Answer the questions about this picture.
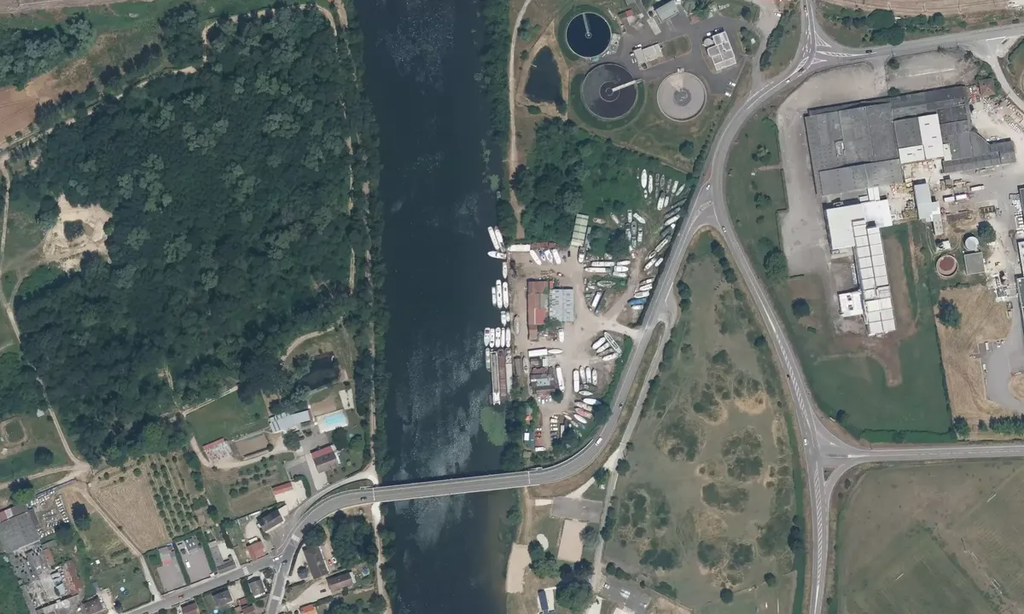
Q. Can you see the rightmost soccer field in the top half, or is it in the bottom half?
bottom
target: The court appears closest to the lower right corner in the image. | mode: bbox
[557,520,587,561]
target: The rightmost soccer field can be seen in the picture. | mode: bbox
[955,473,1024,613]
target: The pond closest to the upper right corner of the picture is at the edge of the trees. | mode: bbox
[524,46,563,103]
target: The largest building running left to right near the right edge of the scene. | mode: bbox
[804,84,1016,196]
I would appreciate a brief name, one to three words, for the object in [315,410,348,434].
swimming pool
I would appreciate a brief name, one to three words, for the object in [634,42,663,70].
building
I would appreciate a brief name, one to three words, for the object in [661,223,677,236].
boat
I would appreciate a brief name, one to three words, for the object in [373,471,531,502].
bridge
